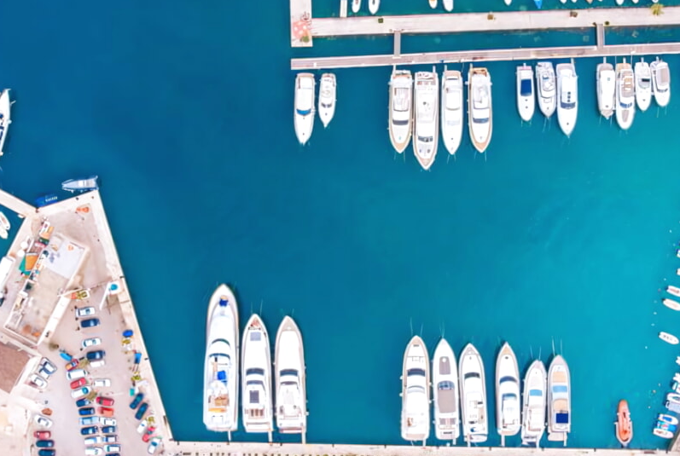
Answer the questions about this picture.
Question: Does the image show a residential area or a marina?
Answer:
marina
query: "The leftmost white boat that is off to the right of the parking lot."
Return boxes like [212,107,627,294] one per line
[203,272,241,442]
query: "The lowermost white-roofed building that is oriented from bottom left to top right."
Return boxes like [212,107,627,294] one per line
[12,351,46,398]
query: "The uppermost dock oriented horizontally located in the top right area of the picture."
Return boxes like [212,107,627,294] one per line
[312,7,680,37]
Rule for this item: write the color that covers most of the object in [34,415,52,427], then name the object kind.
white vehicle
